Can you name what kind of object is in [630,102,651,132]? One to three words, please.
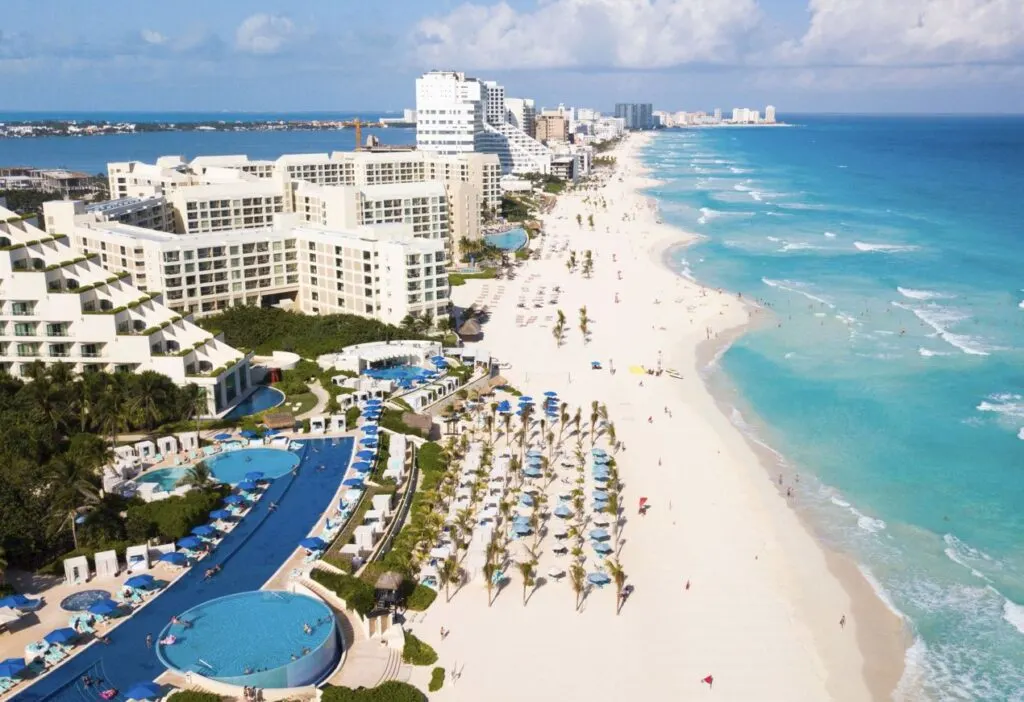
building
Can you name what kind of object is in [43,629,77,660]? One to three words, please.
umbrella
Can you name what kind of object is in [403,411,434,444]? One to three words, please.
shed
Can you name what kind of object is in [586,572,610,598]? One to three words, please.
umbrella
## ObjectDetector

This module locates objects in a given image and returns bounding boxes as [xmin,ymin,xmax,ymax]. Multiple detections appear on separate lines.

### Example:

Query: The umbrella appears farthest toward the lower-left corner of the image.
[0,660,30,693]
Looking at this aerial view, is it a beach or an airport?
beach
